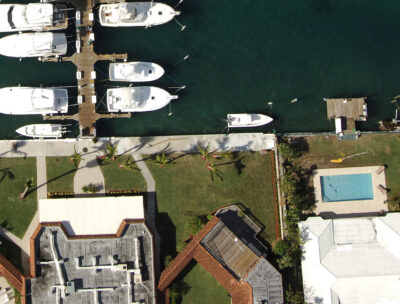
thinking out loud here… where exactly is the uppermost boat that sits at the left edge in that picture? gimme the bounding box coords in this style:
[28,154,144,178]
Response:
[0,0,78,34]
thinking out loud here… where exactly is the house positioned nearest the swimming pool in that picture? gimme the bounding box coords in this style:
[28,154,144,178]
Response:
[297,213,400,304]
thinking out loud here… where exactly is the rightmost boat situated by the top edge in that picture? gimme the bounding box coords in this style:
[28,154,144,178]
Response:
[96,0,183,29]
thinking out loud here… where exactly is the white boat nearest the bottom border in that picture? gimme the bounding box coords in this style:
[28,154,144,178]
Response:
[7,123,67,137]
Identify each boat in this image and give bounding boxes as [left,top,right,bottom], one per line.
[0,27,72,58]
[0,81,82,116]
[7,123,67,137]
[223,103,274,128]
[99,61,179,84]
[0,0,78,34]
[96,85,184,113]
[96,0,183,29]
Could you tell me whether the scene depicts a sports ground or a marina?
marina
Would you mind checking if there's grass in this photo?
Yes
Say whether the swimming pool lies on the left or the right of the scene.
right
